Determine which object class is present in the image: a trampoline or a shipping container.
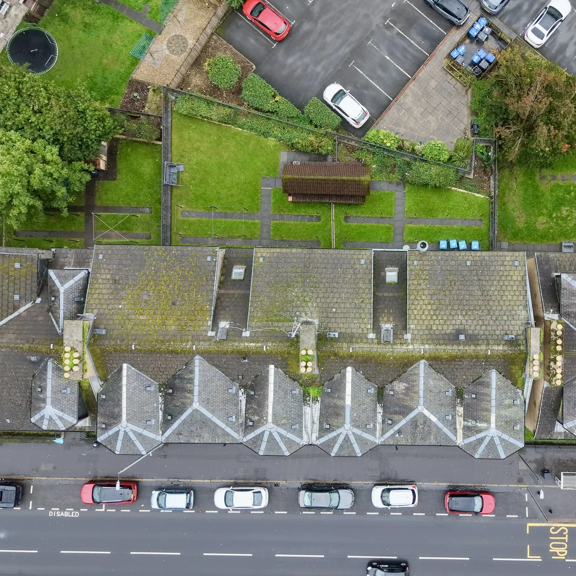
trampoline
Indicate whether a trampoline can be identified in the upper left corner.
Yes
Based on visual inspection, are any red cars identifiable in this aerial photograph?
Yes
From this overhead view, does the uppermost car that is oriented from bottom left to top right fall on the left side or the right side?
right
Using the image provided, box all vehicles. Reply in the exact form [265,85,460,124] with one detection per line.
[0,481,24,507]
[81,480,138,507]
[365,562,410,576]
[297,485,356,512]
[480,0,510,17]
[370,483,419,510]
[323,82,371,131]
[213,485,270,512]
[242,0,292,42]
[525,0,569,50]
[444,490,497,517]
[150,487,196,512]
[422,0,471,29]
